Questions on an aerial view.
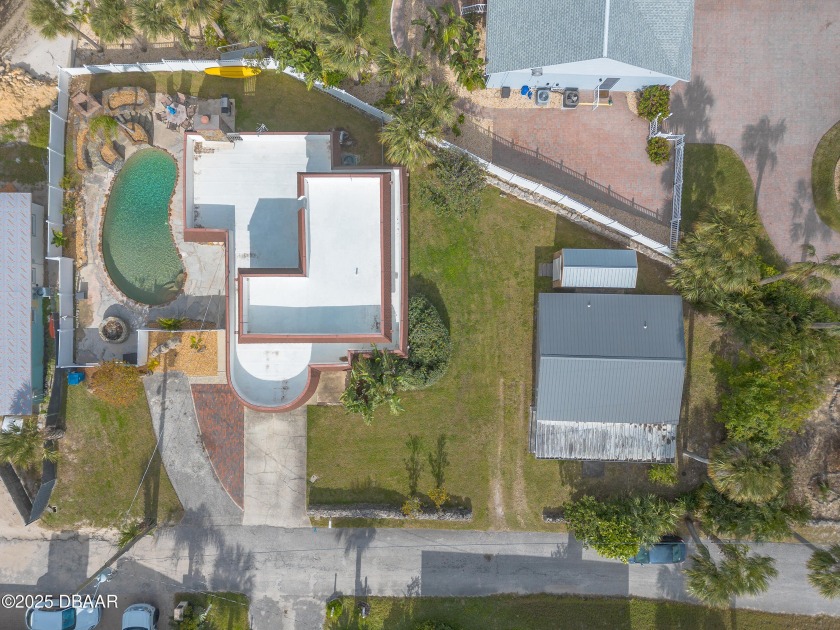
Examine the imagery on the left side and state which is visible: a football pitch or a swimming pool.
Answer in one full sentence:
The one visible on the left side is a swimming pool.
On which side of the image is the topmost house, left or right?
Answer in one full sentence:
You can find the topmost house on the right side of the picture.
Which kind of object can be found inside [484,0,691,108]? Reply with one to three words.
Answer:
house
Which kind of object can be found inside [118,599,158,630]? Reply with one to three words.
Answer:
car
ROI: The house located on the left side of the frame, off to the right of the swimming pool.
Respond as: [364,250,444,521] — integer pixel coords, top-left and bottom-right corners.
[185,112,409,409]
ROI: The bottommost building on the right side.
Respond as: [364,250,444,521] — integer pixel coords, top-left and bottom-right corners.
[531,293,687,463]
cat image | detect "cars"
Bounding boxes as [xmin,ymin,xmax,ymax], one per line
[21,601,102,630]
[617,535,692,572]
[118,599,158,630]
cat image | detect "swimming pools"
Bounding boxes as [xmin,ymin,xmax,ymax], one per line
[97,142,189,307]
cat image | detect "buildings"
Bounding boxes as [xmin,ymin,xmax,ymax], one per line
[0,193,43,415]
[531,293,687,463]
[555,249,638,289]
[185,112,409,409]
[484,0,691,108]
